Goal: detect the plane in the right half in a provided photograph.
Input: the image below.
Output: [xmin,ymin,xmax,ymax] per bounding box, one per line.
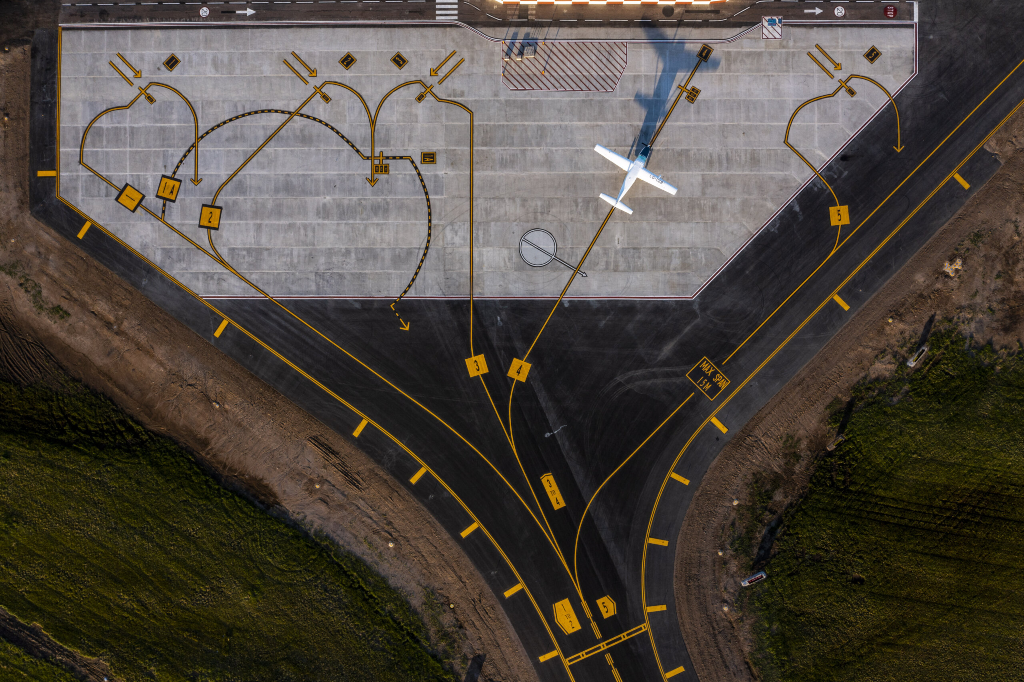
[594,143,678,214]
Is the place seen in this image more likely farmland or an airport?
airport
